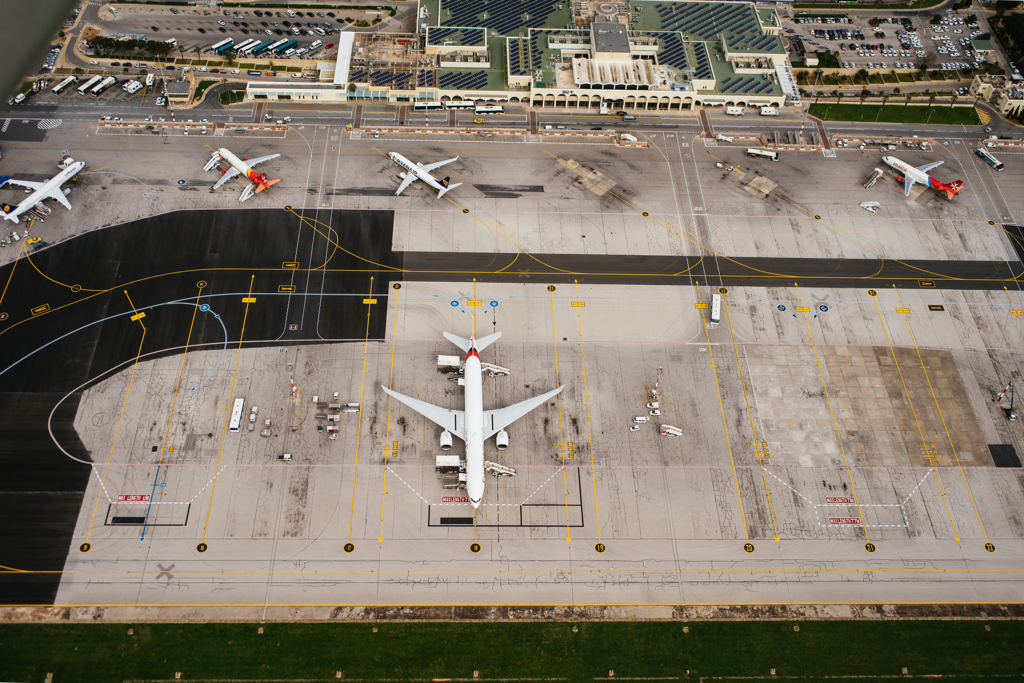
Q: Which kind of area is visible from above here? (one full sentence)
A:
The picture captures an airport.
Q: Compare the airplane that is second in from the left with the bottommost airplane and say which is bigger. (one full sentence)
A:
It is the bottommost airplane that is larger, not the airplane that is second in from the left.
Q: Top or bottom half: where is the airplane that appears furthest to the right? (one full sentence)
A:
The airplane that appears furthest to the right sits in the top half of the picture.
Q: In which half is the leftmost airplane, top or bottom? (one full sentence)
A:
It is in the top half that the leftmost airplane appears.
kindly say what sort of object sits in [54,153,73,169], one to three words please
work vehicle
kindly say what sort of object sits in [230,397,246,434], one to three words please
vehicle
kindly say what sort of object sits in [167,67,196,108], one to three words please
building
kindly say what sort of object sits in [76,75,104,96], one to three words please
bus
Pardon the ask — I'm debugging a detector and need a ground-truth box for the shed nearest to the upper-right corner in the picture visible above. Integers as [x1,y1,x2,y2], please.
[971,38,996,54]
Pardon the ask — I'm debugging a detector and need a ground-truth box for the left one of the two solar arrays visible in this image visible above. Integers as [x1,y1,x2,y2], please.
[441,0,559,33]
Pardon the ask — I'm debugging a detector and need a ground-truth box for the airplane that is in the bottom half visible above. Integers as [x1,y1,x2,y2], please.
[382,319,563,509]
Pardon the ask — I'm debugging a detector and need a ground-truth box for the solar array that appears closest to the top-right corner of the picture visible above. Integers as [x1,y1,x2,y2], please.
[658,2,758,38]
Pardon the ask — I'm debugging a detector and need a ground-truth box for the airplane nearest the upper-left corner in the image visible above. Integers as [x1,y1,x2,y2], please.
[0,163,86,225]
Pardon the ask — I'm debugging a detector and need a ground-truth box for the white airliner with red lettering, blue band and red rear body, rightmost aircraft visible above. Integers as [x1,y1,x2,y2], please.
[882,158,965,201]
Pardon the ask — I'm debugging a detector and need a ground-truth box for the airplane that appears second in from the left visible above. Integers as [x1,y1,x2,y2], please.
[215,149,282,195]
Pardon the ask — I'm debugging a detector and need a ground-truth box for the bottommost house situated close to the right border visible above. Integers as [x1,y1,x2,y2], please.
[969,74,1024,115]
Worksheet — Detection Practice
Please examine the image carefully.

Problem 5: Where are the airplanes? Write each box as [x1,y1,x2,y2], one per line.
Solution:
[215,149,282,195]
[389,152,459,198]
[882,158,965,201]
[382,319,563,509]
[0,163,86,225]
